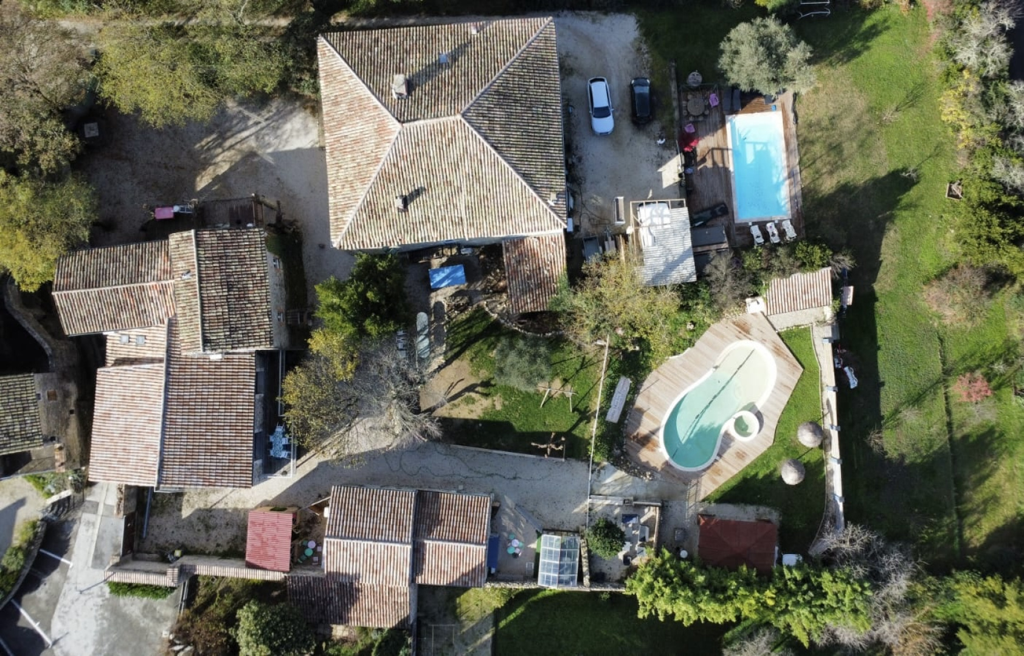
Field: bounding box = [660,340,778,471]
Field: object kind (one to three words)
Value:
swimming pool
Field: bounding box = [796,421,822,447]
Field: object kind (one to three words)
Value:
umbrella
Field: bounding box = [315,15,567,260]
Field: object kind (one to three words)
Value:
house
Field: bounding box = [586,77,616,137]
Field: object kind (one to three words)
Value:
car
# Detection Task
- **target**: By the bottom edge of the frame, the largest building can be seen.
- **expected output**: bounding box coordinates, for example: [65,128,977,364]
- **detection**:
[287,480,500,629]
